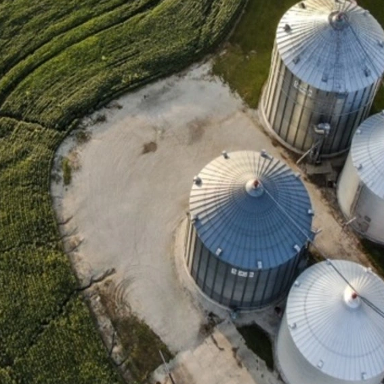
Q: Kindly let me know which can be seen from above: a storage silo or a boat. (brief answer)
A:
storage silo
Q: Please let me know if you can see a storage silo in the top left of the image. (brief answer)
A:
No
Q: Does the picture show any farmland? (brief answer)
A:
Yes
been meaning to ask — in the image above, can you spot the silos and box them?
[260,0,384,157]
[272,259,384,384]
[335,110,384,245]
[178,149,316,313]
